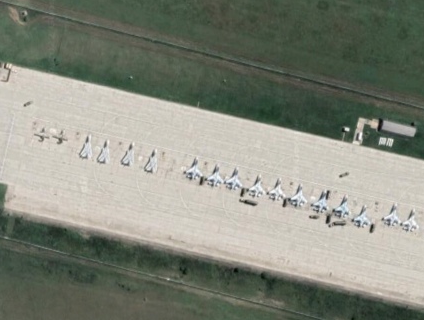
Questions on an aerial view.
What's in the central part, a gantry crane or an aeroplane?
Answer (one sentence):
Looking in the central part, you will find an aeroplane.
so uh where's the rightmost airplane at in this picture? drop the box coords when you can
[403,210,419,232]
